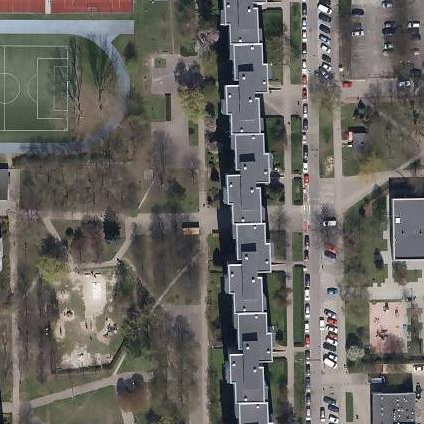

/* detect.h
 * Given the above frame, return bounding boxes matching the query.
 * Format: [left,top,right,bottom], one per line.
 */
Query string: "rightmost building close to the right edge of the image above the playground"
[392,199,424,262]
